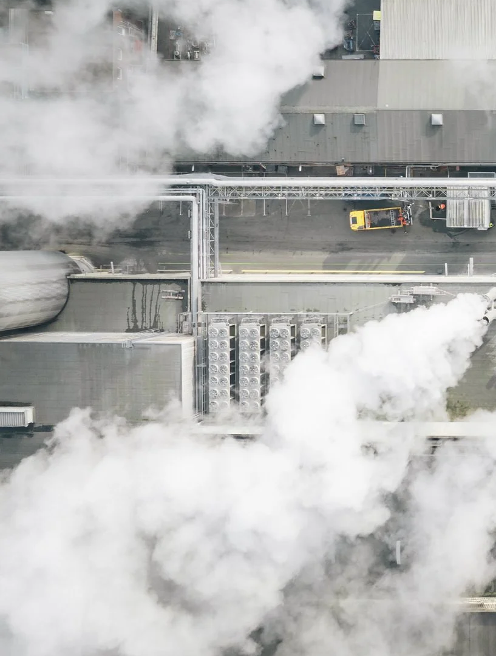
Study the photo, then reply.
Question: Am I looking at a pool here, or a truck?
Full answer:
This aerial view contains a truck.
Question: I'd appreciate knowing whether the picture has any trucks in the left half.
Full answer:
No, no truck can be made out in the left half.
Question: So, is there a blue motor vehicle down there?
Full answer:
No, there's no blue motor vehicle here.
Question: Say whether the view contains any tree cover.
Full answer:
No, there's no tree cover in this view.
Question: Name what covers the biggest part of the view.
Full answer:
The bulk of the photo consists of buildings.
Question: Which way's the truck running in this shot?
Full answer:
The truck is oriented from left to right.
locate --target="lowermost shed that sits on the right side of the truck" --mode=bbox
[447,191,491,229]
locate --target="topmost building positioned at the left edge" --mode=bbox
[0,10,172,168]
